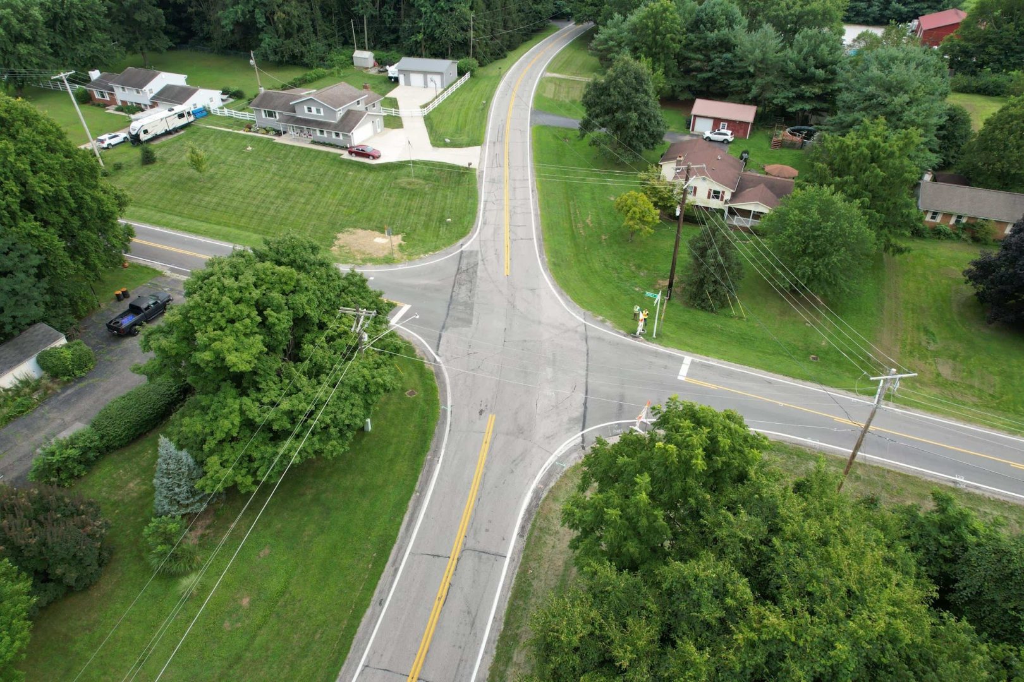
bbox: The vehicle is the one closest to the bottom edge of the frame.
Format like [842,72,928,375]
[100,291,171,331]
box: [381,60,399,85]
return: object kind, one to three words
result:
vehicle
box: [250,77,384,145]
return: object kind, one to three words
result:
house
